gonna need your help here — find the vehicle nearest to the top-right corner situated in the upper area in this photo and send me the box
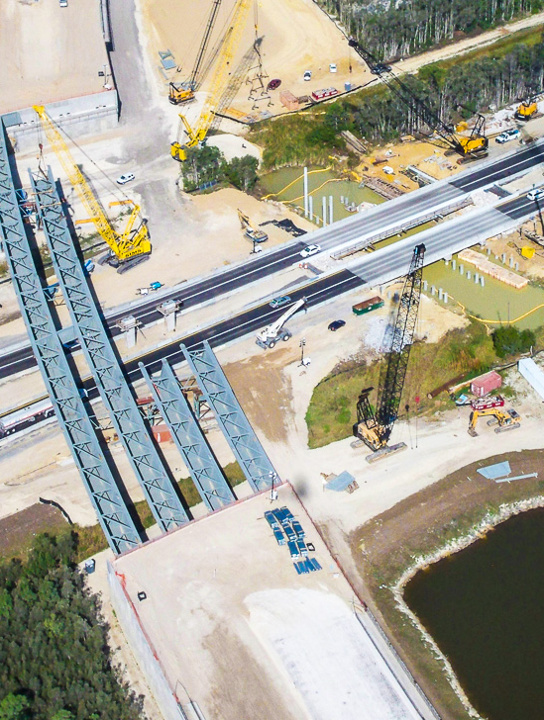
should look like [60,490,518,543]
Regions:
[516,92,538,115]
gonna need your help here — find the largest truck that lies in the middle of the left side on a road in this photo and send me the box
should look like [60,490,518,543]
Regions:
[1,391,67,431]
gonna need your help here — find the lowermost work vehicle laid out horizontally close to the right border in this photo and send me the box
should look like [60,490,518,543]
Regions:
[466,408,525,441]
